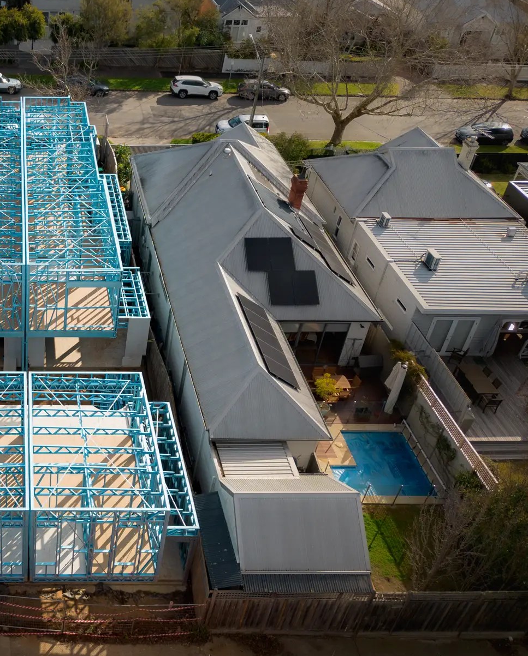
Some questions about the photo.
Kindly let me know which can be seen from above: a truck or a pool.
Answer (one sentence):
Looking from above, you can make out a pool.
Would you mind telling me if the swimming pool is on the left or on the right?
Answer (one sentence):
The swimming pool sits on the right side.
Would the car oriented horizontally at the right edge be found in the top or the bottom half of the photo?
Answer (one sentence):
Seen from above, the car oriented horizontally at the right edge lies in the top half of the view.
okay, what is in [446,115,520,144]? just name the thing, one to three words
car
